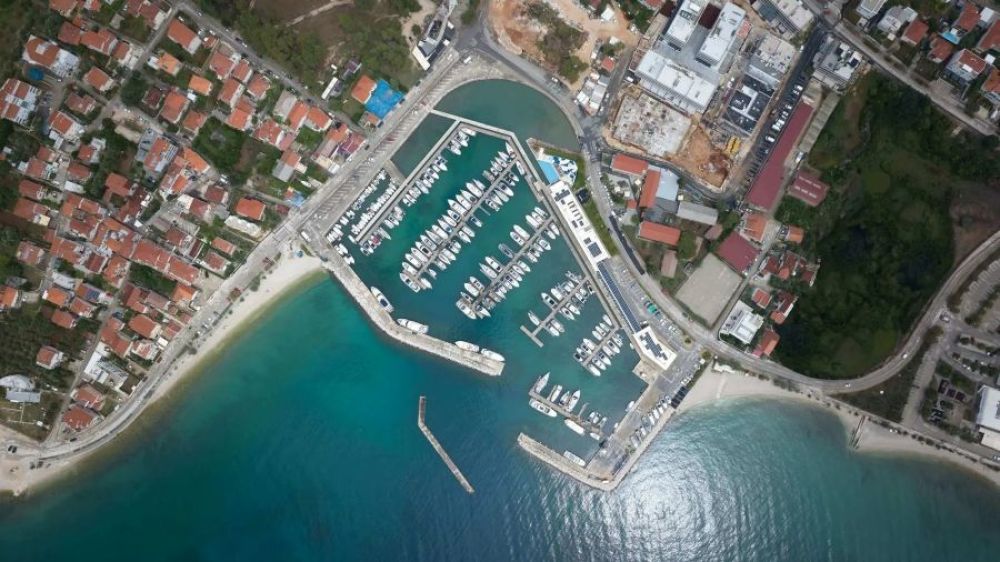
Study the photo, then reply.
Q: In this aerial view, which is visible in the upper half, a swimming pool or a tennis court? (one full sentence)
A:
What appears in the upper half is a swimming pool.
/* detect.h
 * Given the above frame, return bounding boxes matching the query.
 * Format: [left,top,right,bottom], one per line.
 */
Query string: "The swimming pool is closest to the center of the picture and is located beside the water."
[537,155,577,186]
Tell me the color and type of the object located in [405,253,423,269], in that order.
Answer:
white boat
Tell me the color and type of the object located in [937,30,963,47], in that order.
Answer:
blue swimming pool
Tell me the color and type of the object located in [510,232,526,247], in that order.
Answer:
white boat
